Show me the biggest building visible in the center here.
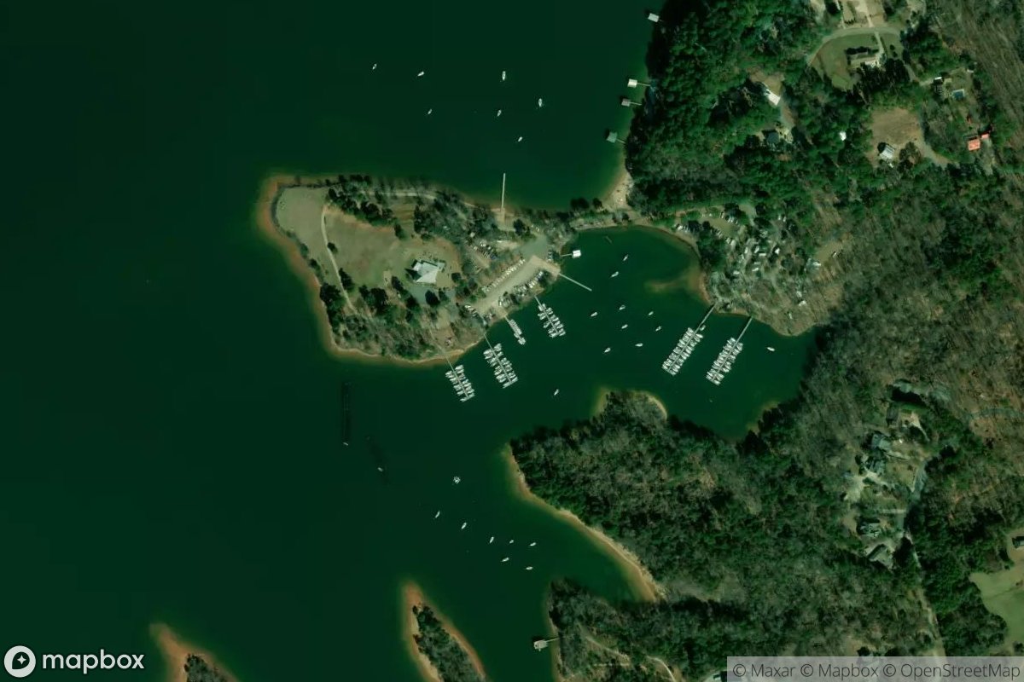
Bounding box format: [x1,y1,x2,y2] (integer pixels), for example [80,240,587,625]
[417,262,438,282]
